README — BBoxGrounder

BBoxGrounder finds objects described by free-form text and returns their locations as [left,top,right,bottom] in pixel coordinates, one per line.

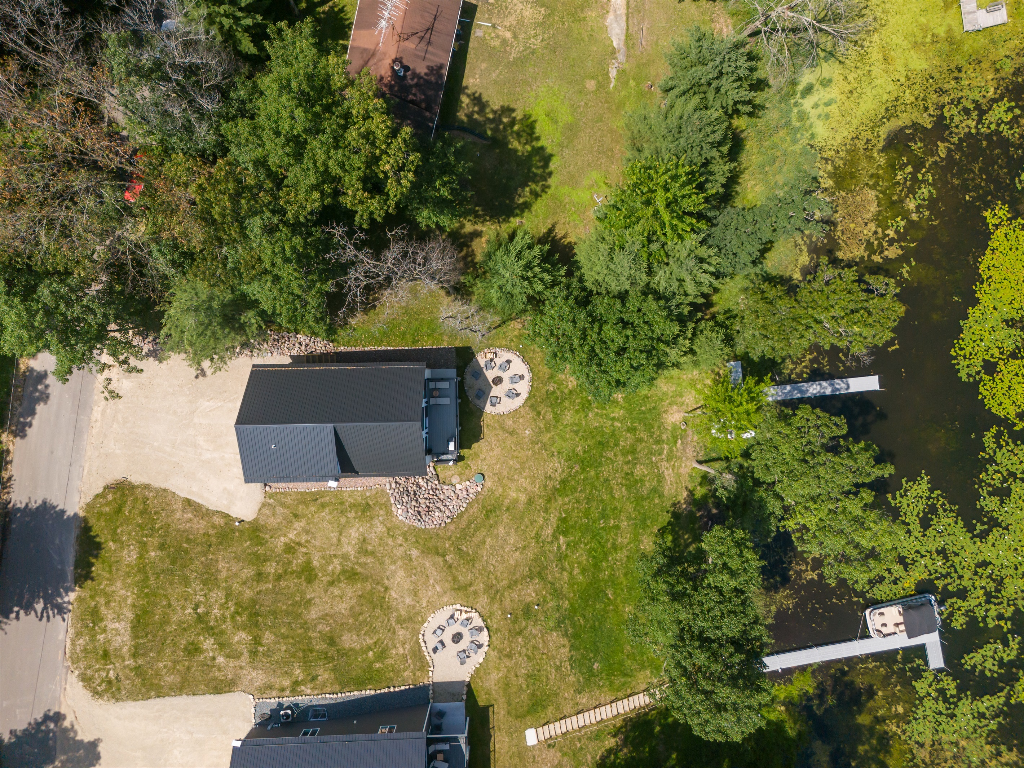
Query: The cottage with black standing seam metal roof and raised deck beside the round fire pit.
[233,361,463,489]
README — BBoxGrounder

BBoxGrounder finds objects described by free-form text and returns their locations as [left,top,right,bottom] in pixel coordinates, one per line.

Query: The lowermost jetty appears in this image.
[759,630,950,673]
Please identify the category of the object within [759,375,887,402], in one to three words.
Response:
pier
